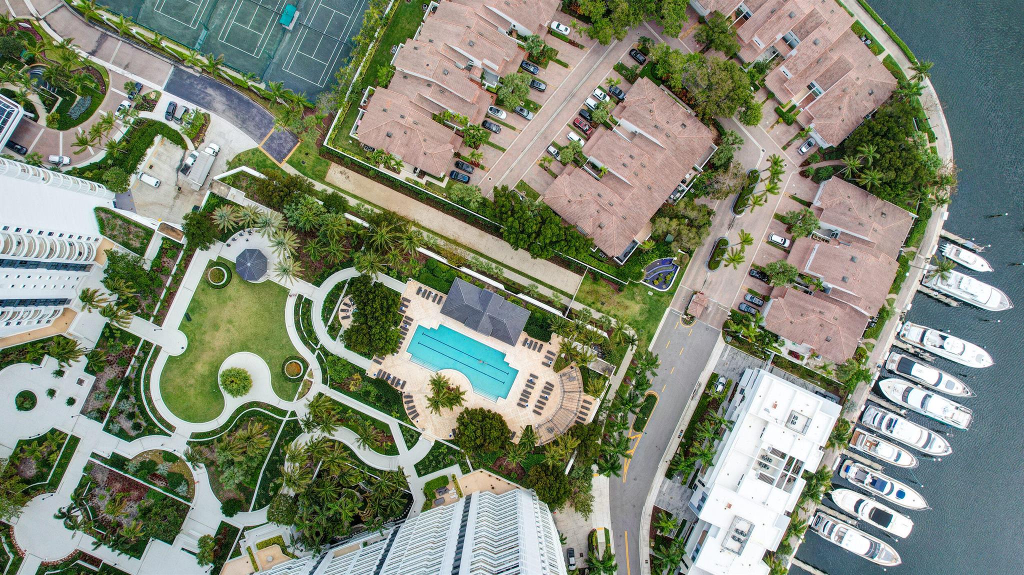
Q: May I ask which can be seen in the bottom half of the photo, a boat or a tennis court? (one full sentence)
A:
Looking in the bottom half of the photo, you will find a boat.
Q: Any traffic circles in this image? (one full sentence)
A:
No, the photo shows no traffic circle.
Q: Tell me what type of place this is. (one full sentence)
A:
The area seen from above is a residential area.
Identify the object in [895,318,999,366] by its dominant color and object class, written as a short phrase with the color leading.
white boat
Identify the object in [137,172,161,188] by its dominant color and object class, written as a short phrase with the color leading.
white vehicle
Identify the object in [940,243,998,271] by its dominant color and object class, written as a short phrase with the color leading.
white boat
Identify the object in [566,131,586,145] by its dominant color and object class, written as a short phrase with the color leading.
white car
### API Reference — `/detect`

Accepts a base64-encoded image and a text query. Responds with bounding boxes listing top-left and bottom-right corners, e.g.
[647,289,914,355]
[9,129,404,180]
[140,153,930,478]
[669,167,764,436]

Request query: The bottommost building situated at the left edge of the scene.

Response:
[0,159,102,338]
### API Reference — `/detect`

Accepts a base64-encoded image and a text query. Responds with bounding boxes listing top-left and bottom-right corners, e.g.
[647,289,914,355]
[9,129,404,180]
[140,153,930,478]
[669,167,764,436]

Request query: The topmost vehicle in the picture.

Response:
[550,21,571,36]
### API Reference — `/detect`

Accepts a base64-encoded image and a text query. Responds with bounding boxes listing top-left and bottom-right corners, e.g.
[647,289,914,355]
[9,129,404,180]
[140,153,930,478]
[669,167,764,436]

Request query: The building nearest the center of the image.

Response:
[440,277,531,347]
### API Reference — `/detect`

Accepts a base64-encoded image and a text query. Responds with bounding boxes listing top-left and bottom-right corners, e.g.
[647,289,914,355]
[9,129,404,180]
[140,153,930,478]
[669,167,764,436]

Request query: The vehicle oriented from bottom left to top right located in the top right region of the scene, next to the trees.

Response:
[798,140,814,156]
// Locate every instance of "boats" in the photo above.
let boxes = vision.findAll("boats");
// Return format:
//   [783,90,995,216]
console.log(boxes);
[895,318,999,366]
[878,380,975,433]
[940,243,998,271]
[847,430,922,467]
[916,269,1018,310]
[835,458,934,511]
[807,512,907,566]
[882,351,979,398]
[856,407,957,454]
[829,489,912,539]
